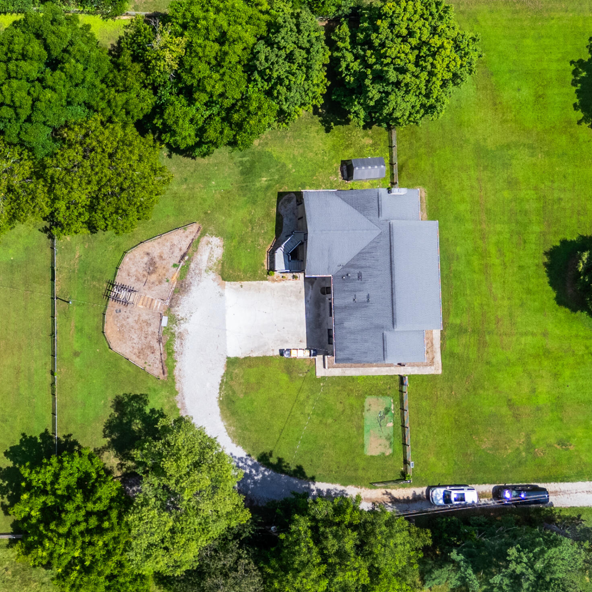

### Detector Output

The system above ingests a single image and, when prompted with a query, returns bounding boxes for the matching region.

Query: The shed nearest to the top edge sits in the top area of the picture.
[346,157,388,180]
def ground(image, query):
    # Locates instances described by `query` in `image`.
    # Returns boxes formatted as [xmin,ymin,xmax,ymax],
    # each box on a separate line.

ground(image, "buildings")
[295,183,440,364]
[346,157,388,180]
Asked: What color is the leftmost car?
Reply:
white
